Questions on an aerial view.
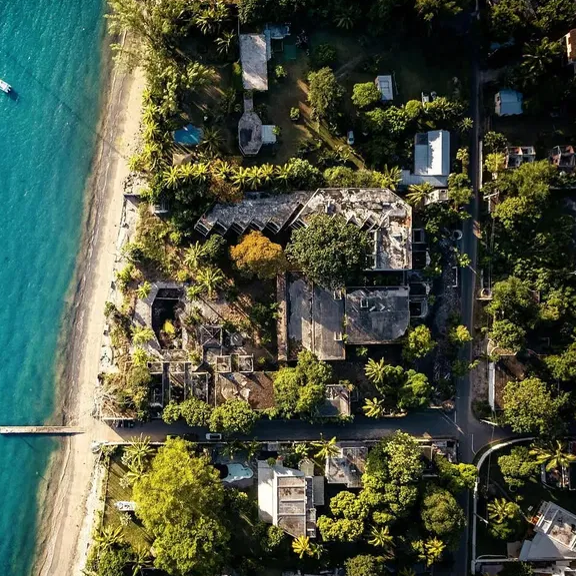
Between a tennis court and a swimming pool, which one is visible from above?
swimming pool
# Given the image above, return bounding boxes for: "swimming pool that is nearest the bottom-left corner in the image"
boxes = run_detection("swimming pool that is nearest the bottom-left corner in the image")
[217,457,258,488]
